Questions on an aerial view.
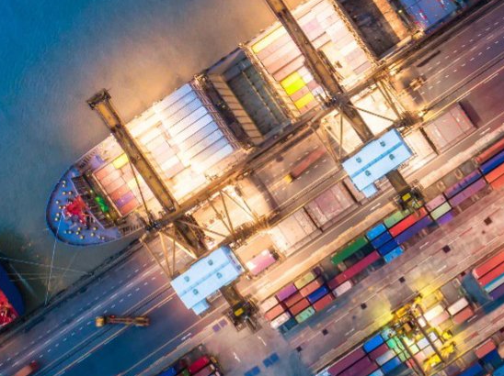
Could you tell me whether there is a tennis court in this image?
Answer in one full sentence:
No, there appears to be no tennis court in this shot.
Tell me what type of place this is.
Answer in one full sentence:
The area seen from above is a port.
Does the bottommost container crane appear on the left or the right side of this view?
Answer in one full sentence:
You can find the bottommost container crane on the right side of the picture.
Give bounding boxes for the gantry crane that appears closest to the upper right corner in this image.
[256,0,429,216]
